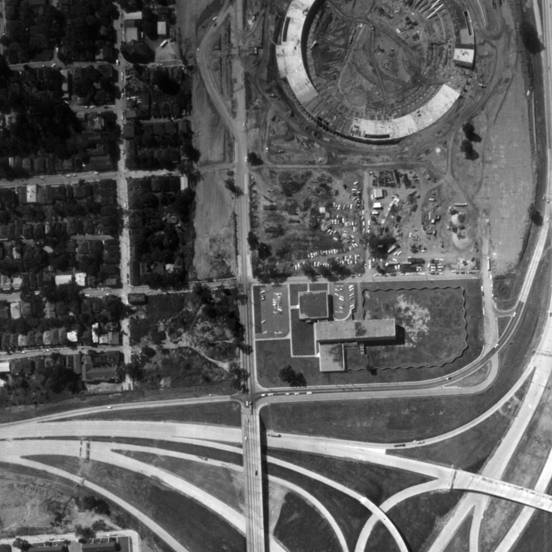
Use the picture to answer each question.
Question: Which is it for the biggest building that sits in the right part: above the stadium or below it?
below it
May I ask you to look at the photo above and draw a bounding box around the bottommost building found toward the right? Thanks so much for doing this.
[320,344,345,372]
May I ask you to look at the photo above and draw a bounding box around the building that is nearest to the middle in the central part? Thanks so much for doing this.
[299,291,330,321]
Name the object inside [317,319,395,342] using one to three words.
building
